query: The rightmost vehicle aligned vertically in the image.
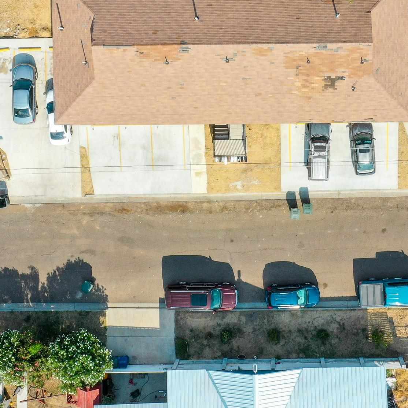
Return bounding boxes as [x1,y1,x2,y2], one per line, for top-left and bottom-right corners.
[348,123,376,180]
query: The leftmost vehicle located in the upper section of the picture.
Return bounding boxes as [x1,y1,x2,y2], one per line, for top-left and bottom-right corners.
[9,62,40,126]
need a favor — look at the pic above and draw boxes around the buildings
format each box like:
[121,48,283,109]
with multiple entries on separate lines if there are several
[53,0,408,125]
[93,364,388,408]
